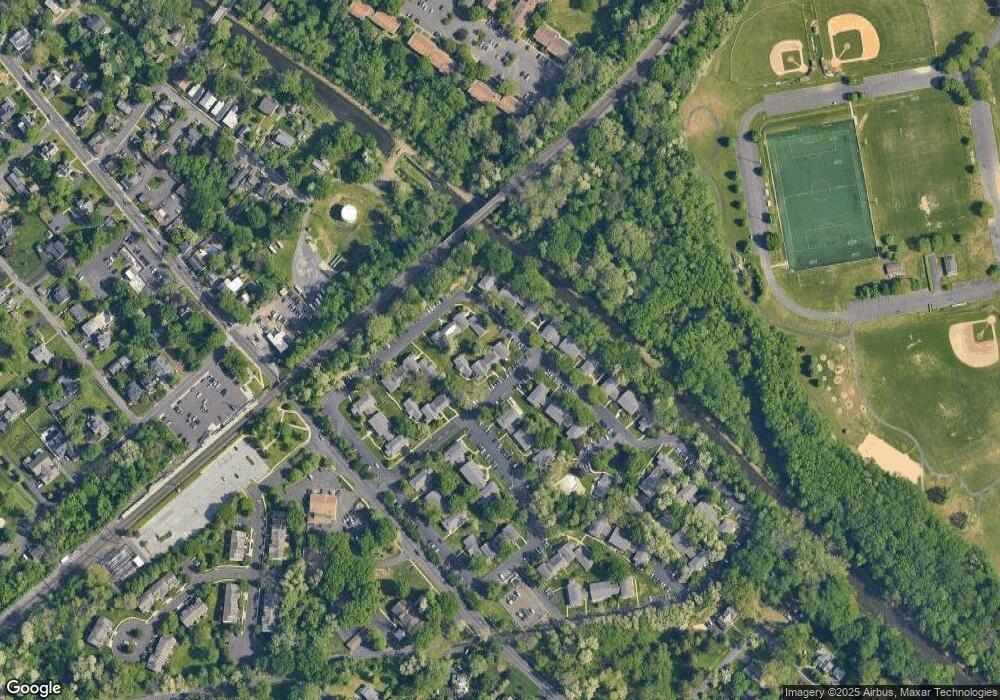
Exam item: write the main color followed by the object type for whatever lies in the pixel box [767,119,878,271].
green soccer field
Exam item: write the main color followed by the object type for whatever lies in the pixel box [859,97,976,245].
green soccer field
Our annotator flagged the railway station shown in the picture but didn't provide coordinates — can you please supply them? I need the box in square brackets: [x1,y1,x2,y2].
[121,387,255,516]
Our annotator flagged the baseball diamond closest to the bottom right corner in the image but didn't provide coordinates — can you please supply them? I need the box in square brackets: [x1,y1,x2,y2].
[852,309,1000,470]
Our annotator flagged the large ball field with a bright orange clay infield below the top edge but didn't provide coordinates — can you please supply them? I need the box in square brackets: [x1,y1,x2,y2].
[823,0,938,76]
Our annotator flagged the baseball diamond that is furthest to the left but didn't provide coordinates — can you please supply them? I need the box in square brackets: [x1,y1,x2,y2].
[730,1,812,88]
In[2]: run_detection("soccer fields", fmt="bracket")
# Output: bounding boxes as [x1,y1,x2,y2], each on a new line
[859,97,976,245]
[767,119,878,271]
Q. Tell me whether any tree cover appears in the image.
Yes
